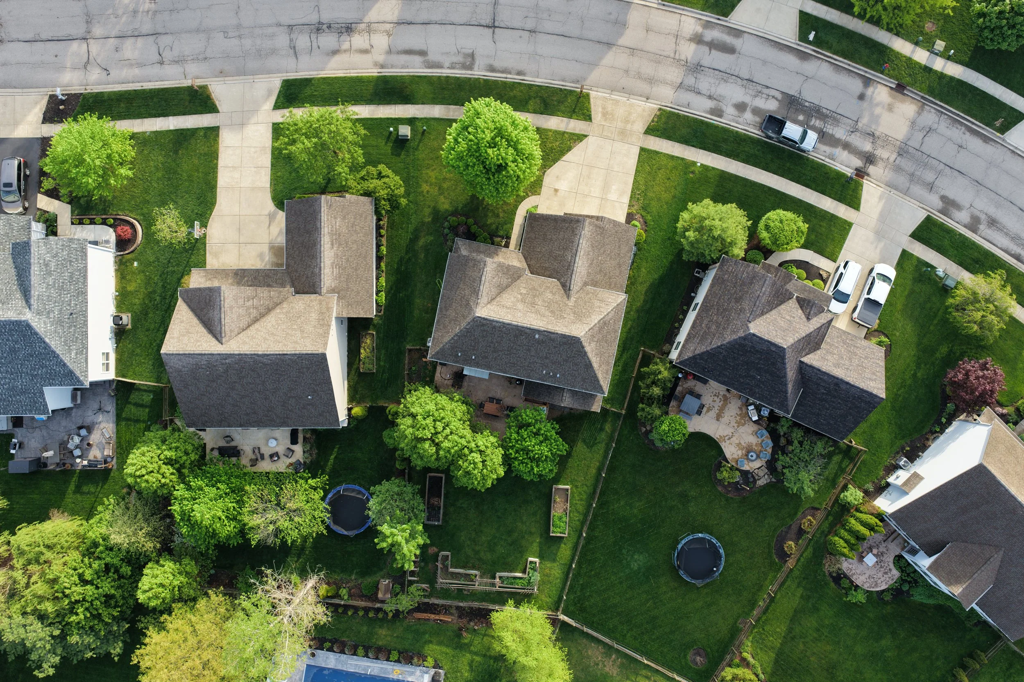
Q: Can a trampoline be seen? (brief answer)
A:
Yes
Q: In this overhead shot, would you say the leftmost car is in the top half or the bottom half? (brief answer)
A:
top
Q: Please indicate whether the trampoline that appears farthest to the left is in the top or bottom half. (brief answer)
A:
bottom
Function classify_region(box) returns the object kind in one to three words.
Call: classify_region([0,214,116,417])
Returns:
house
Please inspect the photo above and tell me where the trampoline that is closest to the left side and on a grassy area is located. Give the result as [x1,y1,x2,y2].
[324,489,370,536]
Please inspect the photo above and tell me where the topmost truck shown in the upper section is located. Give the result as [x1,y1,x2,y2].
[758,110,822,151]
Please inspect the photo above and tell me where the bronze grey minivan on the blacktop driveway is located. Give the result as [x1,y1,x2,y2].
[0,154,30,213]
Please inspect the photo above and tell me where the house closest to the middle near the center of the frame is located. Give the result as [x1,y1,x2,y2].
[427,212,638,413]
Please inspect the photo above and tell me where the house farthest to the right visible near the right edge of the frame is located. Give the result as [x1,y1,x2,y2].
[869,410,1024,642]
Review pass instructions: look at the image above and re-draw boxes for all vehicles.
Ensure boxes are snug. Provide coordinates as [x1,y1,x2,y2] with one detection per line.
[0,154,30,213]
[853,262,895,331]
[758,110,822,151]
[828,256,866,316]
